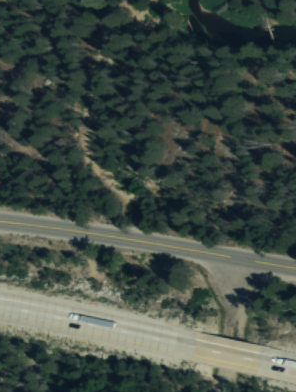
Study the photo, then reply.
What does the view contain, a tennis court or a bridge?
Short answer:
bridge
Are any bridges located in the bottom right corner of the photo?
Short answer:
Yes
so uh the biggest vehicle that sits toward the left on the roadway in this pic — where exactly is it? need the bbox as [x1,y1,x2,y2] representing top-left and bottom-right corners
[69,314,118,327]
